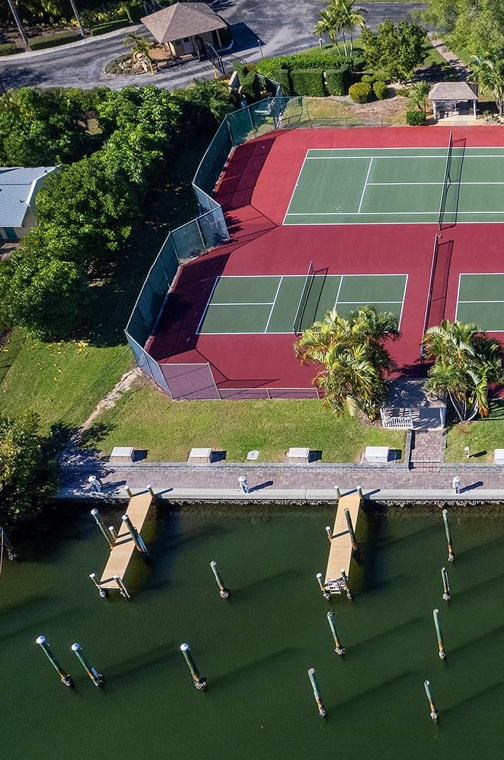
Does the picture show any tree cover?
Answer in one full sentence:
Yes, there's tree cover in this view.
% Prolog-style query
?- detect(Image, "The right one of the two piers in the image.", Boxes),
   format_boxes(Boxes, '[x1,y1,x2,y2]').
[318,485,370,606]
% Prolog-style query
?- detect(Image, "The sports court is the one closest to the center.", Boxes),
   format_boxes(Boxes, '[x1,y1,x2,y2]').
[197,275,408,333]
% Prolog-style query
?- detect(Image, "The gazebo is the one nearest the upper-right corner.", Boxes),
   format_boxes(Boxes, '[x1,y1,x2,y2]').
[429,80,479,120]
